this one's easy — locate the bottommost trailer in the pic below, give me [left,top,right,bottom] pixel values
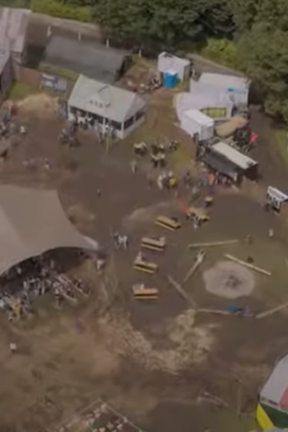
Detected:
[196,139,260,190]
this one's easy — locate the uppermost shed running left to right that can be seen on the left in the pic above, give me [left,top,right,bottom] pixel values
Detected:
[39,33,135,84]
